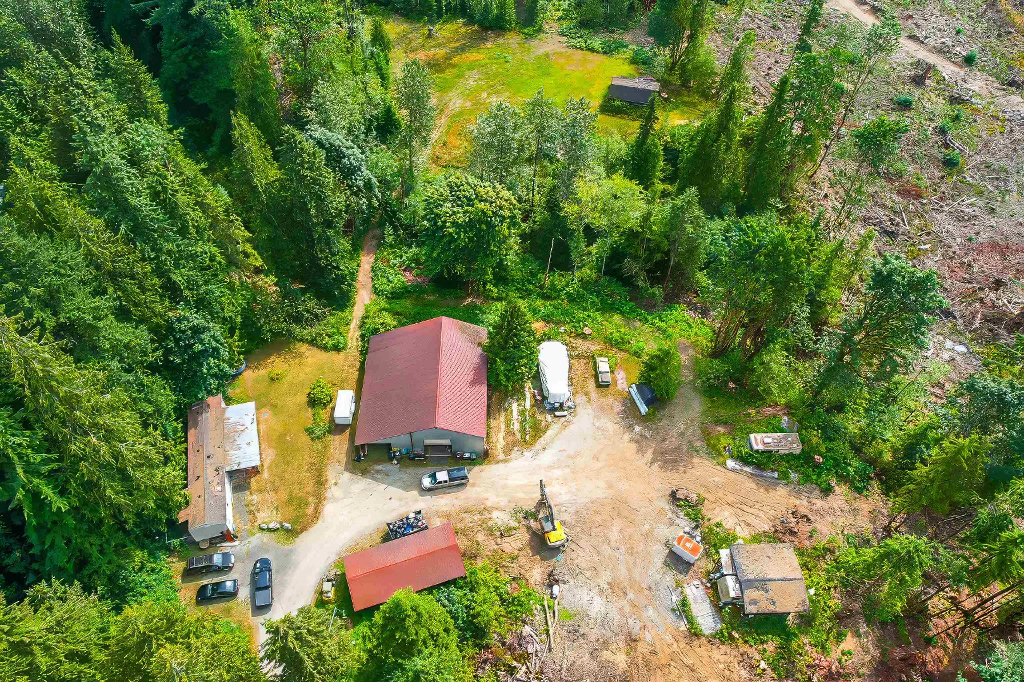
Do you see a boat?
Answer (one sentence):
Yes, the picture does show a boat.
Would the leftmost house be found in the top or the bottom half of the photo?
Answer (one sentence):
You can find the leftmost house in the bottom half.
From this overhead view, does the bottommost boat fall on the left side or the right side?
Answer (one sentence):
It is on the right.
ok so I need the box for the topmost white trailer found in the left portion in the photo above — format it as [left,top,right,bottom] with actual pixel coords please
[331,386,359,429]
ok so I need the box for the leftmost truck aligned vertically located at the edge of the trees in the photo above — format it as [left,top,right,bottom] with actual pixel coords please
[251,556,277,611]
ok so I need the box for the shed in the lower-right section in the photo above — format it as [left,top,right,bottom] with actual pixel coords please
[730,544,808,622]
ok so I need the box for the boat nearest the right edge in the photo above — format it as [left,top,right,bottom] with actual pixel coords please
[674,533,709,565]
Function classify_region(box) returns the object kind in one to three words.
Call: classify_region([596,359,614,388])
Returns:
vehicle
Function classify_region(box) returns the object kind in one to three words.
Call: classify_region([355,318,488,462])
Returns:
barn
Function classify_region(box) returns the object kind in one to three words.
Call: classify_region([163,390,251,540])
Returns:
house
